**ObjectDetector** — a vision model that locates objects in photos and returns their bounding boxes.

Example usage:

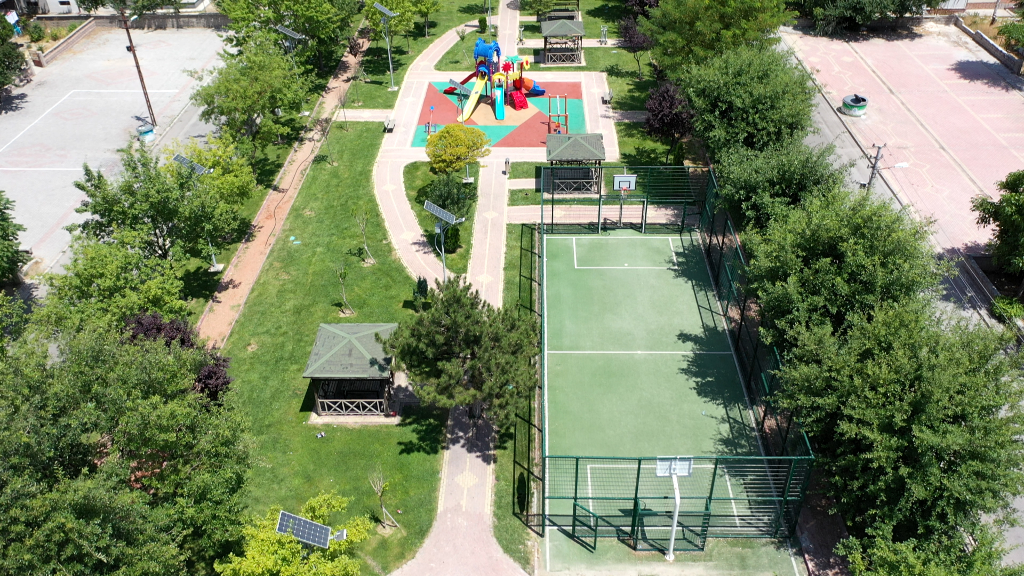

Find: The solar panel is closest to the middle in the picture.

[422,202,453,226]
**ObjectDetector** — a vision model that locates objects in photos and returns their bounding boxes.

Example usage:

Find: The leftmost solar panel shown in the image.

[171,160,204,181]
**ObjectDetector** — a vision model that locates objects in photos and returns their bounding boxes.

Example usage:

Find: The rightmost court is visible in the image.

[543,224,808,576]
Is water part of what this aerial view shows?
No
